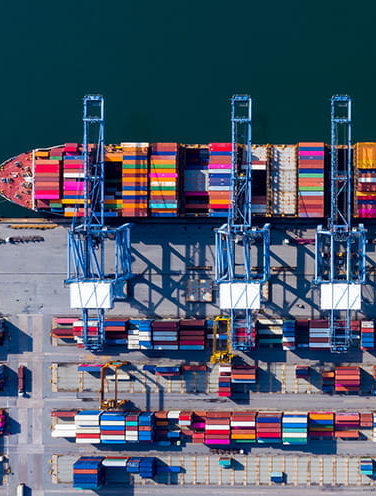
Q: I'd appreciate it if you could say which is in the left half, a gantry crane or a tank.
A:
gantry crane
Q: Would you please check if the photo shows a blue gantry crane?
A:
Yes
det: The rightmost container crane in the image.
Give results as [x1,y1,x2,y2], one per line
[309,93,369,353]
